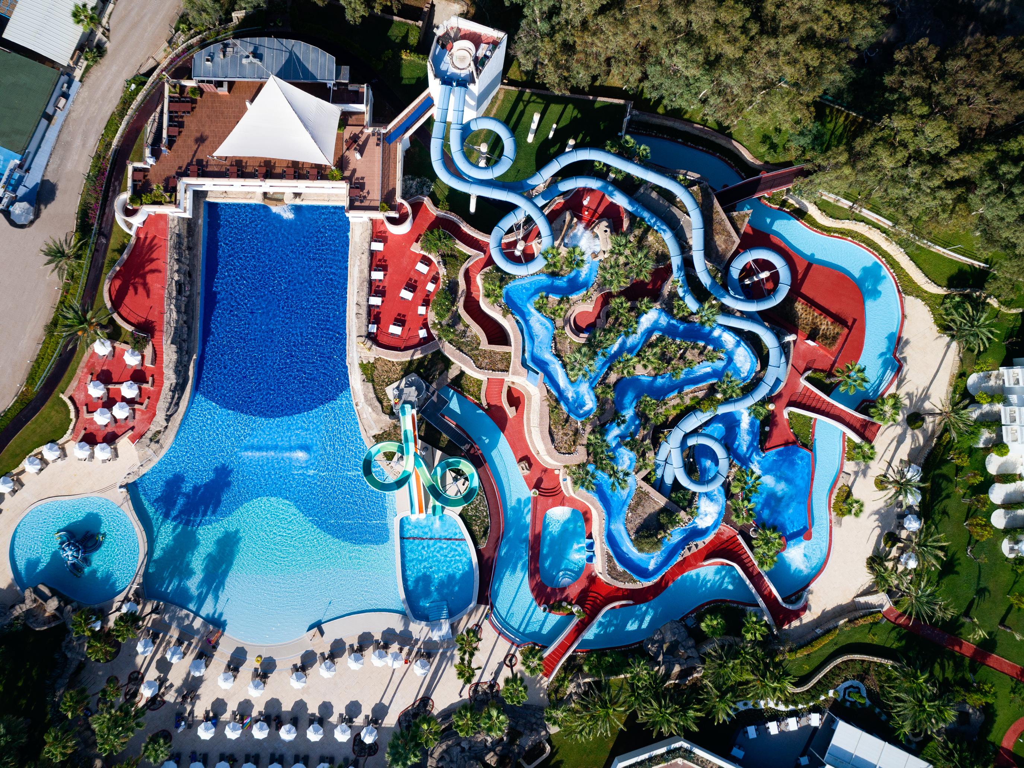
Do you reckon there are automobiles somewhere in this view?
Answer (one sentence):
No, I find no automobile anywhere in the image.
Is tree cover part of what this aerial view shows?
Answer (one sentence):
Yes, some tree cover is visible.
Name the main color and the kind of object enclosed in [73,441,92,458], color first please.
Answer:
white umbrella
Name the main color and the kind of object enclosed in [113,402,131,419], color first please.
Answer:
white umbrella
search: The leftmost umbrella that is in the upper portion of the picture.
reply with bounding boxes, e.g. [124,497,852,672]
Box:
[12,202,36,226]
